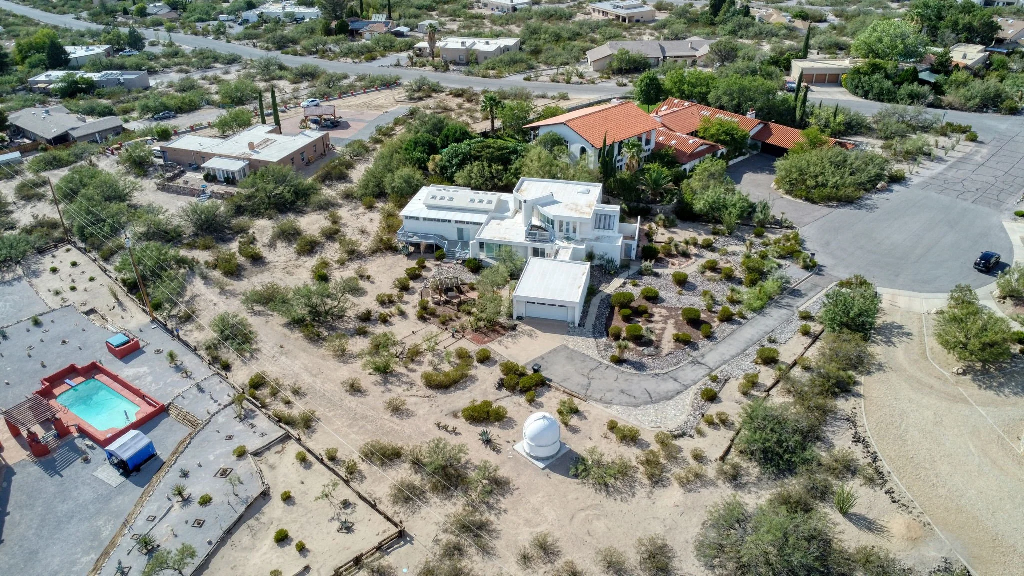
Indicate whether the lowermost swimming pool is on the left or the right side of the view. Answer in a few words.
left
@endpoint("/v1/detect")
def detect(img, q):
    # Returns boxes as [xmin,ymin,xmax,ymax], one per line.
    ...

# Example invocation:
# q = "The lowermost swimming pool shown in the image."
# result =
[30,358,169,451]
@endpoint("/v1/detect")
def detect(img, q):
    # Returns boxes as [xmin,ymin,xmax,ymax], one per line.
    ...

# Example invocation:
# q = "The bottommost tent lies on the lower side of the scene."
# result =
[104,430,158,479]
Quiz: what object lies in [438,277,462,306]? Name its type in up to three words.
gazebo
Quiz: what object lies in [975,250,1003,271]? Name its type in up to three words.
car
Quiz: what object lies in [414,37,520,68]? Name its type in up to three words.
house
